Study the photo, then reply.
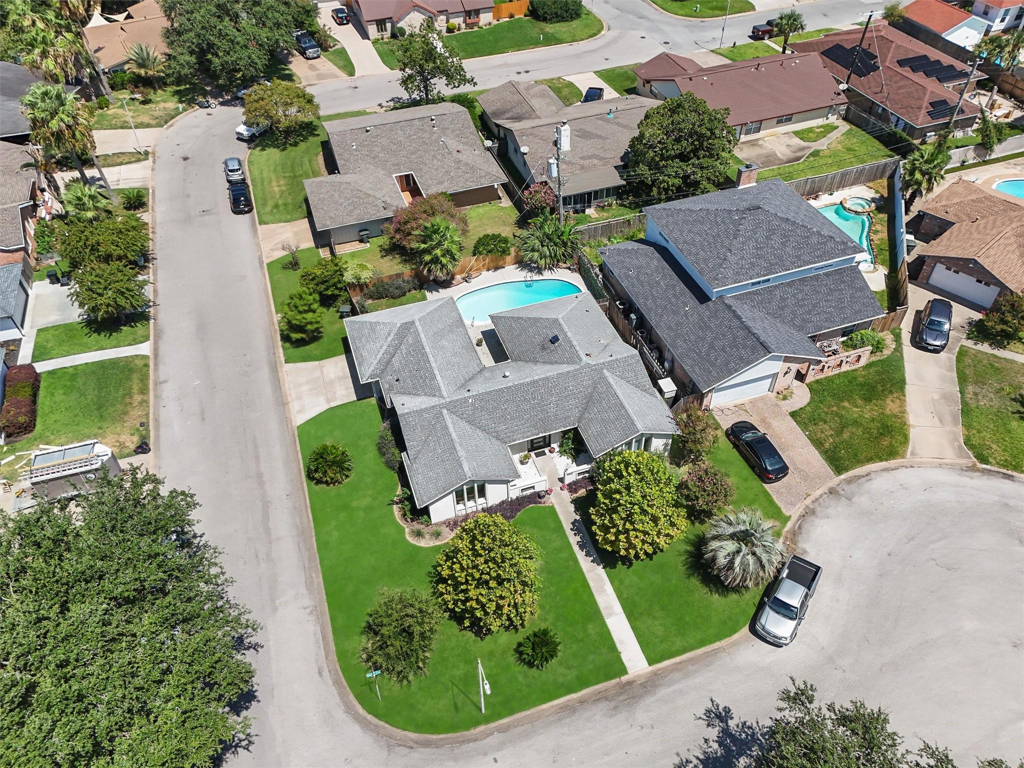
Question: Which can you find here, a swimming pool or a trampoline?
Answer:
swimming pool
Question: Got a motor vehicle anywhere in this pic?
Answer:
Yes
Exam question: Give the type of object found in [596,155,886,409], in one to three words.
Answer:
house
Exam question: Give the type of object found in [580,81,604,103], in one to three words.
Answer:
car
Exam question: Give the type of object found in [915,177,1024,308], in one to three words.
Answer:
house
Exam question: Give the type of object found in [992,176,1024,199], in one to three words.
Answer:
swimming pool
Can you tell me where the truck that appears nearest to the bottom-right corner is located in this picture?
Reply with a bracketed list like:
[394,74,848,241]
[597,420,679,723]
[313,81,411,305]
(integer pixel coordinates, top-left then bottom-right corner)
[756,556,820,649]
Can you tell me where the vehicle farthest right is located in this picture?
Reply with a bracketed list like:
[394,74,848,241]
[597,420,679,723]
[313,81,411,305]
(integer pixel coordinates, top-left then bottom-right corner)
[915,294,960,352]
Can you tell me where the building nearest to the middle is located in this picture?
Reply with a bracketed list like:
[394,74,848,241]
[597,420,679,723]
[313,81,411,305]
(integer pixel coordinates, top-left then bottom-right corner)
[342,291,682,520]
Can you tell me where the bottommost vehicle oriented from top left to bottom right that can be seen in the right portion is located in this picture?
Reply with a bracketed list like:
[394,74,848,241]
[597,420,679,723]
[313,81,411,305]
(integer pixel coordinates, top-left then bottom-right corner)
[728,422,789,483]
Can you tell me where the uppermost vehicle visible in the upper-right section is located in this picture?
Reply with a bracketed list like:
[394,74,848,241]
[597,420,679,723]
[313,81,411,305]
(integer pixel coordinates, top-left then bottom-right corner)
[749,21,787,40]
